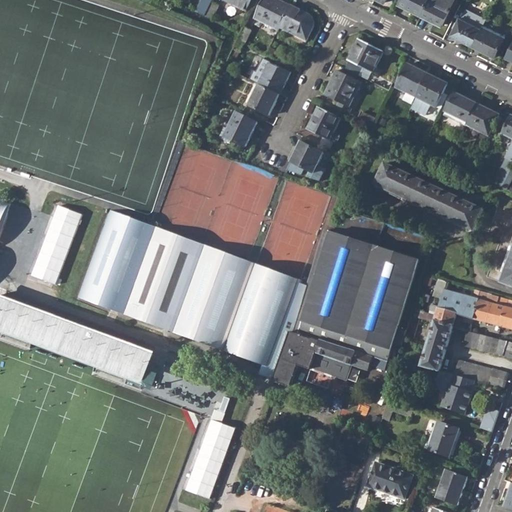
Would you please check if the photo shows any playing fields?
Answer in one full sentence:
Yes, this view includes a playing field.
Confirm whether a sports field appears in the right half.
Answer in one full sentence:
No, there's no sports field to be seen in the right half.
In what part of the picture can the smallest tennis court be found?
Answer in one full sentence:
The smallest tennis court is in the center part of the image.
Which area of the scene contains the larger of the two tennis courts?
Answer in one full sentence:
The larger of the two tennis courts is in the center part of the image.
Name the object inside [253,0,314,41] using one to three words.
house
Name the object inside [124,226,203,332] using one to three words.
building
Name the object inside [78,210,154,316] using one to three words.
building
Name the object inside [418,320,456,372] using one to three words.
house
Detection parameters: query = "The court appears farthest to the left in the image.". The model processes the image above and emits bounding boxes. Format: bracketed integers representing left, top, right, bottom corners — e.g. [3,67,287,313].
[161,150,277,256]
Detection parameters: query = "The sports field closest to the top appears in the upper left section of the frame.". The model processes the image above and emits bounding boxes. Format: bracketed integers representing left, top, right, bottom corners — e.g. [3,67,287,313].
[0,0,206,216]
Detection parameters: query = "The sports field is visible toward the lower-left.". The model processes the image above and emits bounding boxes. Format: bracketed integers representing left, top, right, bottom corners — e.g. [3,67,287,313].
[0,341,198,512]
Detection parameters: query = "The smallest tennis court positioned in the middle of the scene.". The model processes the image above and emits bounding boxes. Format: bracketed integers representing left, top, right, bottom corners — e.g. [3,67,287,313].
[256,182,330,278]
